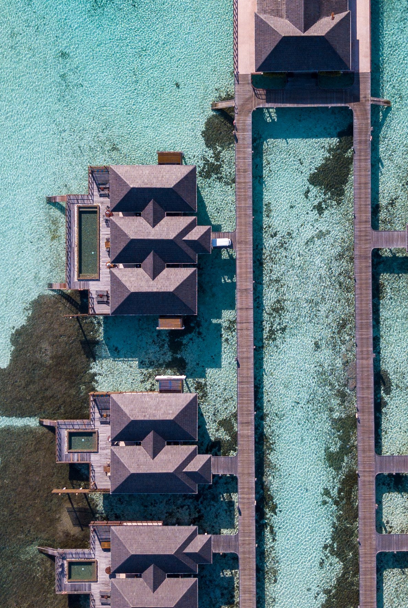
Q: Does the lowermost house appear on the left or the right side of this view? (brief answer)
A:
left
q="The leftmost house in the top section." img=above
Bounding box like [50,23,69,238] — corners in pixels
[49,150,213,330]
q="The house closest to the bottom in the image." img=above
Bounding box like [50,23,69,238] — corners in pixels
[40,518,213,608]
